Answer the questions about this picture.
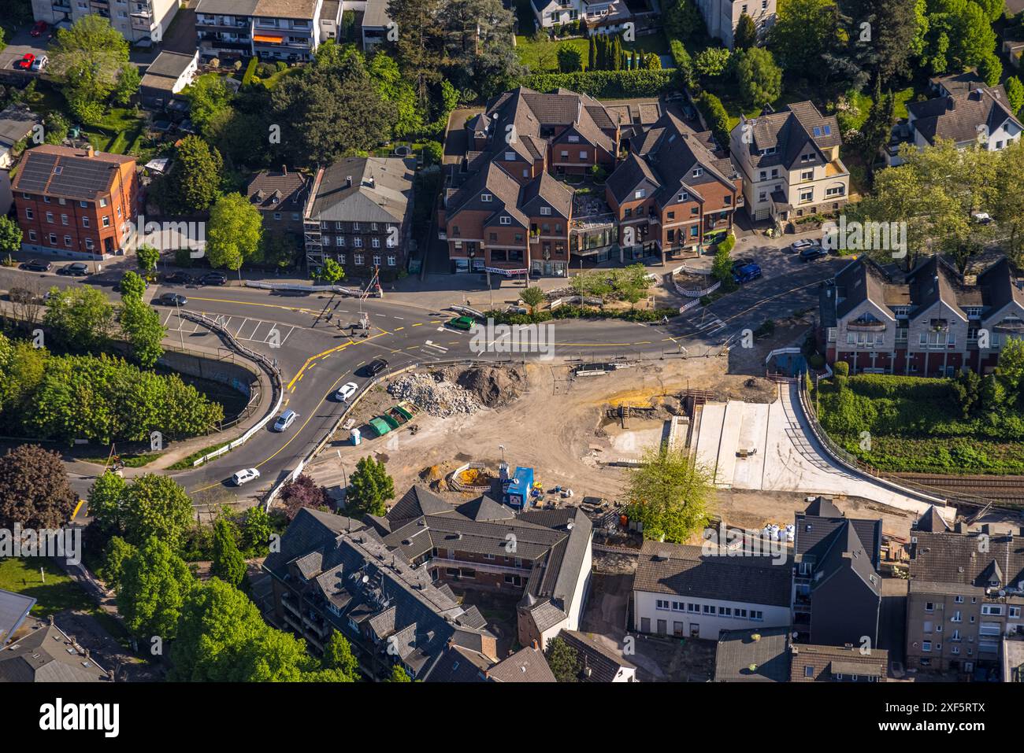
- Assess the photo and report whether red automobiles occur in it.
Yes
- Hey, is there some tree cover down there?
Yes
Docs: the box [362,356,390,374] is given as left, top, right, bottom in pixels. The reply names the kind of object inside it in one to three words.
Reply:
car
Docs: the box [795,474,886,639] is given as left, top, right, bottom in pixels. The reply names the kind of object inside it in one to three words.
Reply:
house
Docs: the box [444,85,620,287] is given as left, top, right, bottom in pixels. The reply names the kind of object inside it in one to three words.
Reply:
building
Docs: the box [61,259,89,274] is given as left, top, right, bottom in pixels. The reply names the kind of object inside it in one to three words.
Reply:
car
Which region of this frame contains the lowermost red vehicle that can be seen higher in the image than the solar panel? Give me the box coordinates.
[18,51,35,68]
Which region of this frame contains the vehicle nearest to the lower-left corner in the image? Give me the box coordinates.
[232,467,260,484]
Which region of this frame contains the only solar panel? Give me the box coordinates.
[18,152,117,196]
